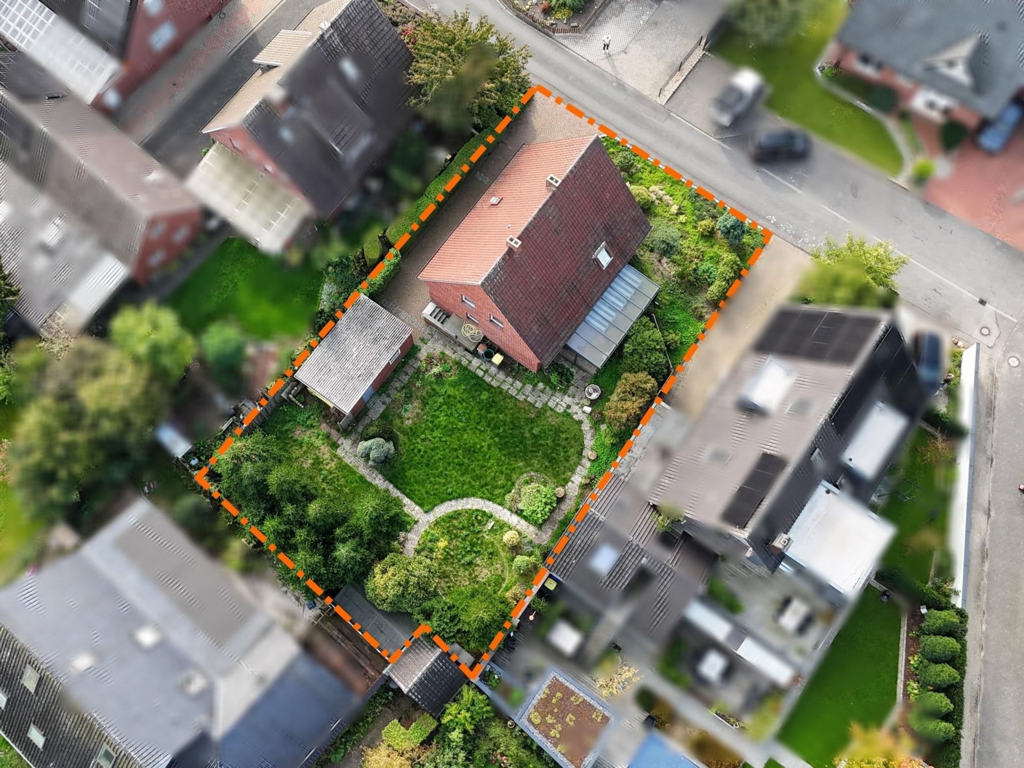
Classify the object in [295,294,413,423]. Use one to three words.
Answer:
shed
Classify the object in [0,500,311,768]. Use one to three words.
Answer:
house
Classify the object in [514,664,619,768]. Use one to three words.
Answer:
building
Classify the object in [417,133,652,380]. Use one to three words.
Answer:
house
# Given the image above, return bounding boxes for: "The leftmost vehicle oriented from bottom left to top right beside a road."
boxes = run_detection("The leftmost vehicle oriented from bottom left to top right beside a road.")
[714,66,768,126]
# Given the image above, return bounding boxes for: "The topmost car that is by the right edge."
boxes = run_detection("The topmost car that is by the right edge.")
[976,98,1024,151]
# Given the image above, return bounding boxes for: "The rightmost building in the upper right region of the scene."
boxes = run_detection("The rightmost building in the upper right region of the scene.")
[822,0,1024,132]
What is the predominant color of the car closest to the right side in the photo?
blue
